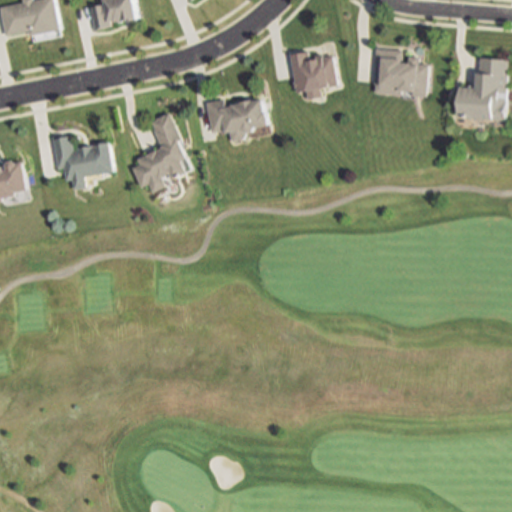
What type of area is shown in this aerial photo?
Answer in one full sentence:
The picture captures a golf course.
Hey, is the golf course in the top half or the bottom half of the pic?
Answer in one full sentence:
You can find the golf course in the bottom half.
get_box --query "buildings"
[98,0,138,29]
[0,161,33,207]
[451,59,512,128]
[0,0,60,44]
[54,134,116,192]
[374,48,434,100]
[132,114,194,205]
[292,42,343,102]
[208,98,274,147]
